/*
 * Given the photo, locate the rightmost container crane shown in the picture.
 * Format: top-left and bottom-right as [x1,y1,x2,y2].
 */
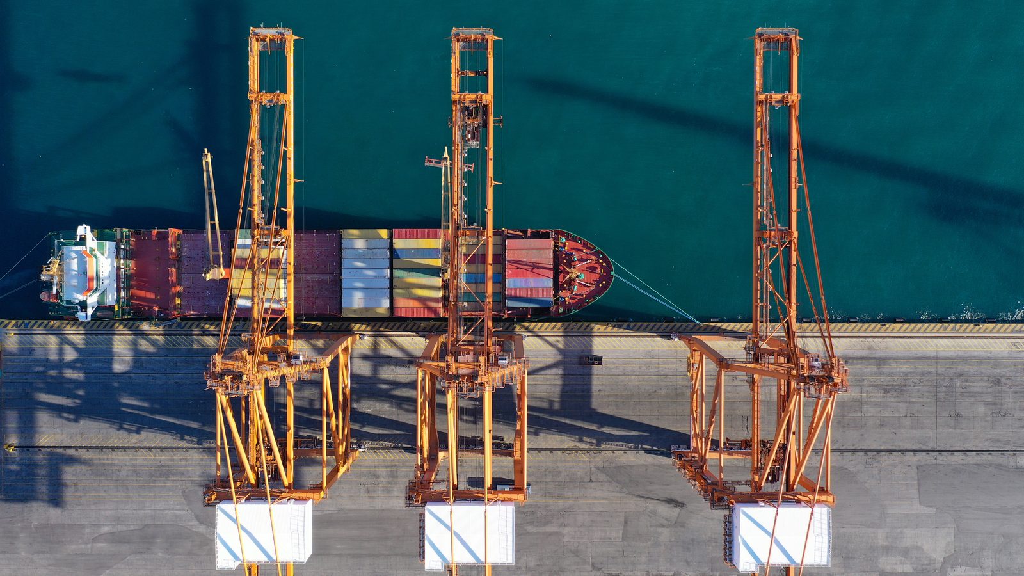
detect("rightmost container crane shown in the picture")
[672,25,852,576]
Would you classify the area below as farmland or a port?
port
